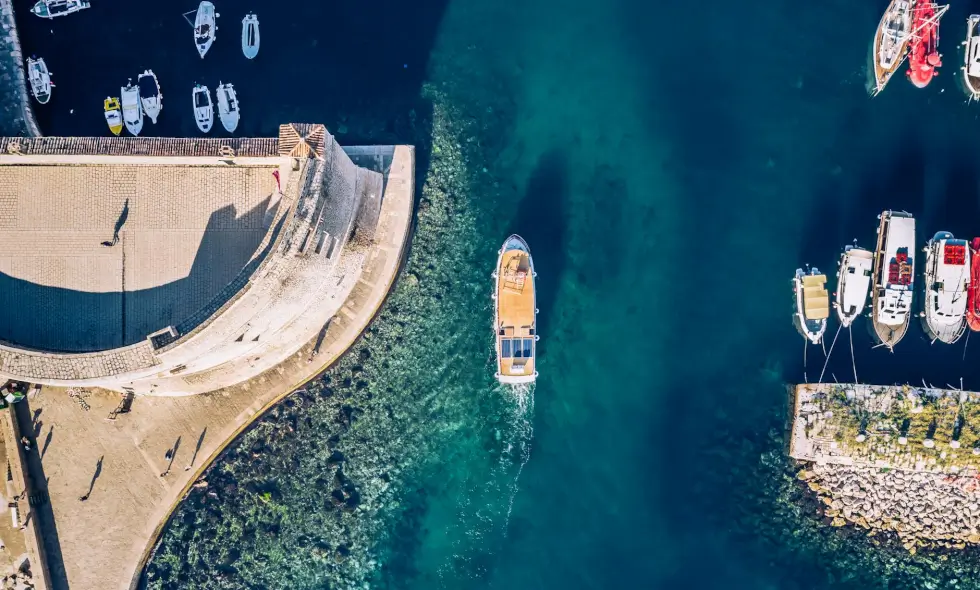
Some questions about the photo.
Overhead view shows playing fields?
No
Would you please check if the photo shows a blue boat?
Yes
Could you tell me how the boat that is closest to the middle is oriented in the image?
vertically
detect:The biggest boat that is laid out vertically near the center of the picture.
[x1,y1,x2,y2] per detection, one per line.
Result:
[492,233,540,381]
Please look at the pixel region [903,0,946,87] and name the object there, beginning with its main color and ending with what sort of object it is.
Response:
red vessel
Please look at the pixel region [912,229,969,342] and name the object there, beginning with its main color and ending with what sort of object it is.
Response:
white boat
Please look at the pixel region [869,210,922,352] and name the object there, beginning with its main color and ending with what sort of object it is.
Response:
white boat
